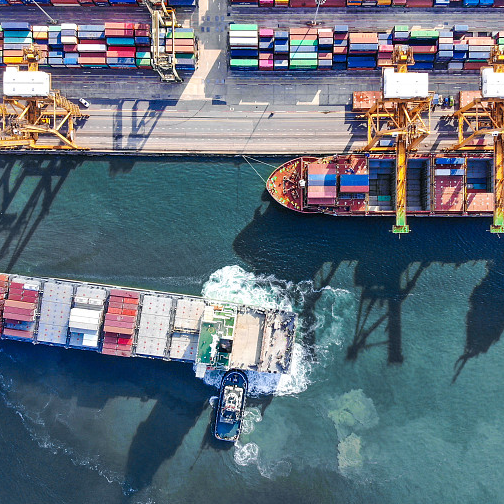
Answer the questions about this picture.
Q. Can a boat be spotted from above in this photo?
Yes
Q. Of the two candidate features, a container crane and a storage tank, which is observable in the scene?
container crane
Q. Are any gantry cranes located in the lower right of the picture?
No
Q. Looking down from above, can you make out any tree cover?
No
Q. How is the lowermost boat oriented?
up and down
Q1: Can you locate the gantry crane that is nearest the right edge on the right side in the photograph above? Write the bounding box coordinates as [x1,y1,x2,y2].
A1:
[431,47,504,243]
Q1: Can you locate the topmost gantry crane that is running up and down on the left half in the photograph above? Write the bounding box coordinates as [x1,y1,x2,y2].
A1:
[152,8,184,77]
